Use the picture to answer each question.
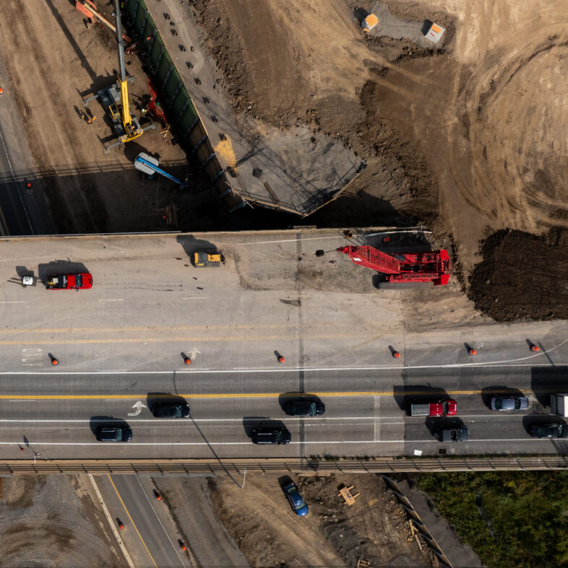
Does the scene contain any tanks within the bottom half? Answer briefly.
No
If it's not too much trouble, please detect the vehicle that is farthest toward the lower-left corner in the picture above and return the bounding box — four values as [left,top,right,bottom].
[96,425,132,442]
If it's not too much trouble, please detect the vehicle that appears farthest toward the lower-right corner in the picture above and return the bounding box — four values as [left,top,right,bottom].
[529,421,567,438]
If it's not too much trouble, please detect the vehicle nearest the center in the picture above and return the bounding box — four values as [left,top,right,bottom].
[196,252,225,268]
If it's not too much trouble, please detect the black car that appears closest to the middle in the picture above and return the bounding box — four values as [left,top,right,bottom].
[285,400,323,417]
